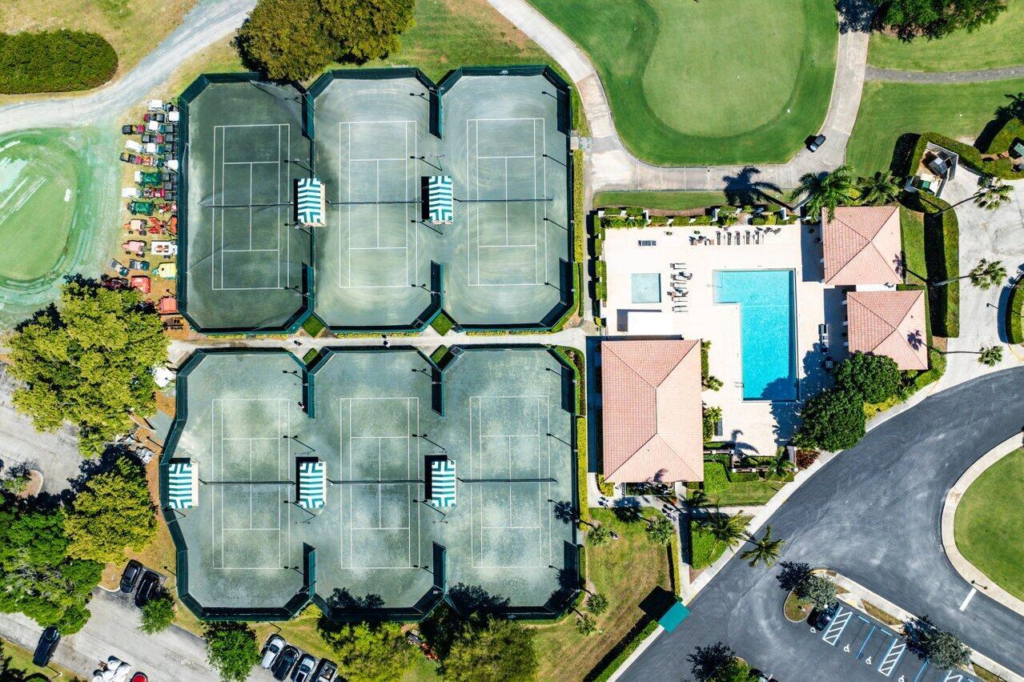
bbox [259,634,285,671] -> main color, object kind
white car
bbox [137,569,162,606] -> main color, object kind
black car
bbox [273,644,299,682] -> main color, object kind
black car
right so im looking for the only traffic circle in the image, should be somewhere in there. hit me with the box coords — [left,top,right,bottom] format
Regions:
[942,432,1024,615]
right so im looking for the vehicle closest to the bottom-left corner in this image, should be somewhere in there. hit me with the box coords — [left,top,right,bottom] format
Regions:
[33,632,62,667]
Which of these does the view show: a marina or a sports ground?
sports ground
